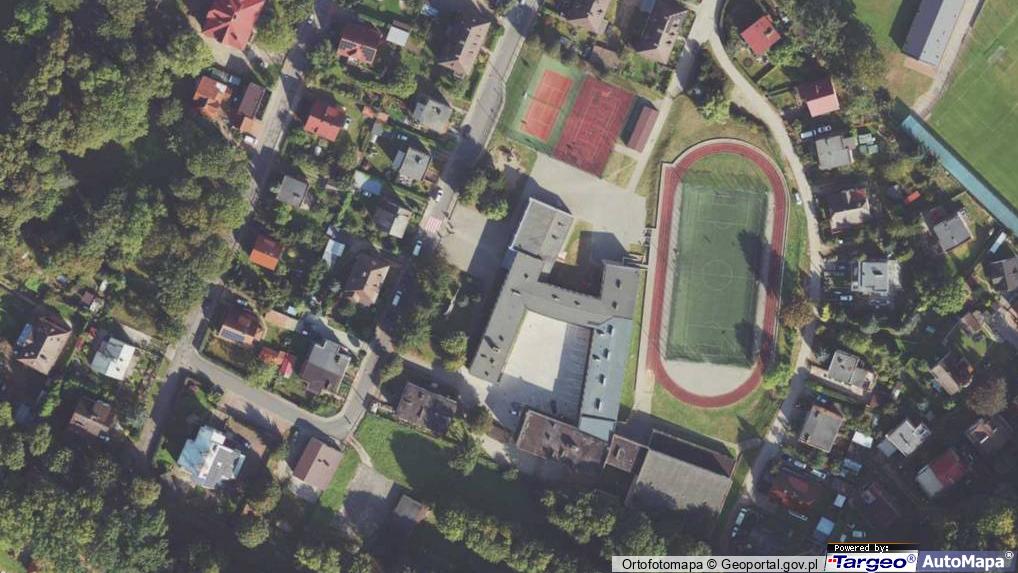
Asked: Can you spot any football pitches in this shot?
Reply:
Yes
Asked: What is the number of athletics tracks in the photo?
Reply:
1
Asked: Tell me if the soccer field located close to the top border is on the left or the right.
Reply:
right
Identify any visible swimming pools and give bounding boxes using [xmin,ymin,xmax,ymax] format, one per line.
[363,178,381,197]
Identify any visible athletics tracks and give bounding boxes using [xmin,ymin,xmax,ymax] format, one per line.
[646,136,788,411]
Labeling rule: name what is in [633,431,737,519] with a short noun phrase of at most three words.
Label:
building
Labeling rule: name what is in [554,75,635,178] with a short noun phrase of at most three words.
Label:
sports court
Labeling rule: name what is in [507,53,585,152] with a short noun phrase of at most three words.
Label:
tennis court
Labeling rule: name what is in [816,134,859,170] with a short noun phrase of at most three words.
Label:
house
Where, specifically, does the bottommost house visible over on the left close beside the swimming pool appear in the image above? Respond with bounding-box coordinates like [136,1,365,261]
[373,202,411,240]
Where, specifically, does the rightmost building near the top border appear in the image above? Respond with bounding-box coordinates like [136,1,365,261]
[903,0,965,65]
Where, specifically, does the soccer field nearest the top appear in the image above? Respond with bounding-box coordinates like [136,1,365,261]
[928,0,1018,205]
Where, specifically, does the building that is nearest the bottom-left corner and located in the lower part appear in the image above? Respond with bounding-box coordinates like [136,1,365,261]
[70,397,116,438]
